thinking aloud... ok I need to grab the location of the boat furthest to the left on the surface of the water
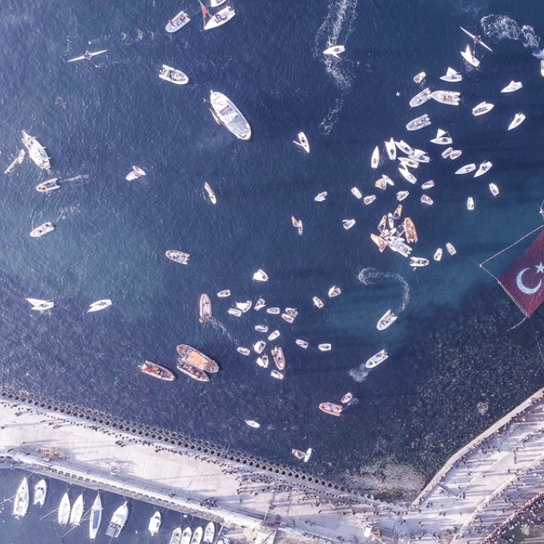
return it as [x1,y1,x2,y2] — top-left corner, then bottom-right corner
[0,477,31,518]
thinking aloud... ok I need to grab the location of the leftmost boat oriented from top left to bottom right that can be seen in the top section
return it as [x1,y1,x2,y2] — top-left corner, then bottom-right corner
[23,133,55,172]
